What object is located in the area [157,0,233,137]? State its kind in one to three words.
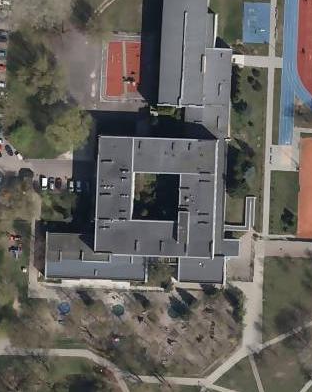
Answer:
building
